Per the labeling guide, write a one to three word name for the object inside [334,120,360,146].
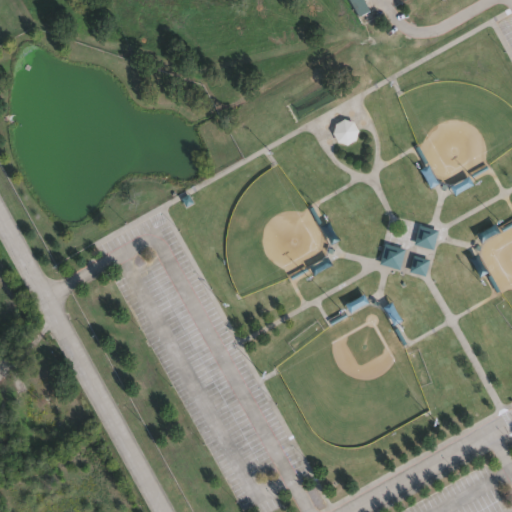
gazebo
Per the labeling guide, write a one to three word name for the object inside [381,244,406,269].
building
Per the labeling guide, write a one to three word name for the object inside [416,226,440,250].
building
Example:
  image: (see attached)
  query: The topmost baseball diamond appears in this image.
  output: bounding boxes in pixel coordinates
[401,81,512,186]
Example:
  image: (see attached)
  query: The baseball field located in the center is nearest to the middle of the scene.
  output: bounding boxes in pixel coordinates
[227,166,328,298]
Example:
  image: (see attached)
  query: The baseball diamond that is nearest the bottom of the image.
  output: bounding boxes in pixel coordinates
[279,303,428,446]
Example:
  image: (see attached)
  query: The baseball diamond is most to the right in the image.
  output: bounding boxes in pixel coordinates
[481,226,512,308]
